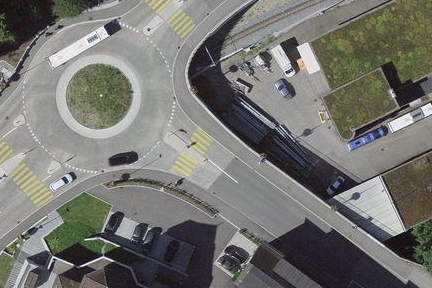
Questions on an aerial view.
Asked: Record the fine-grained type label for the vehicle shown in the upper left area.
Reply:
bus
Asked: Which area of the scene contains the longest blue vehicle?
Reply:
right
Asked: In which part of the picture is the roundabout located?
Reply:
left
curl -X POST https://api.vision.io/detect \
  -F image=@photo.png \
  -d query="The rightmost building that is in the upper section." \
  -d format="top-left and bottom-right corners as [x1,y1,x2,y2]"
[394,74,432,107]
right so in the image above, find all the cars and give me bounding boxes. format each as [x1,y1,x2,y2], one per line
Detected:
[48,172,72,192]
[325,174,346,196]
[110,152,136,164]
[104,210,124,236]
[274,78,294,102]
[164,238,182,264]
[130,221,148,245]
[224,245,250,263]
[216,254,242,272]
[142,225,163,252]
